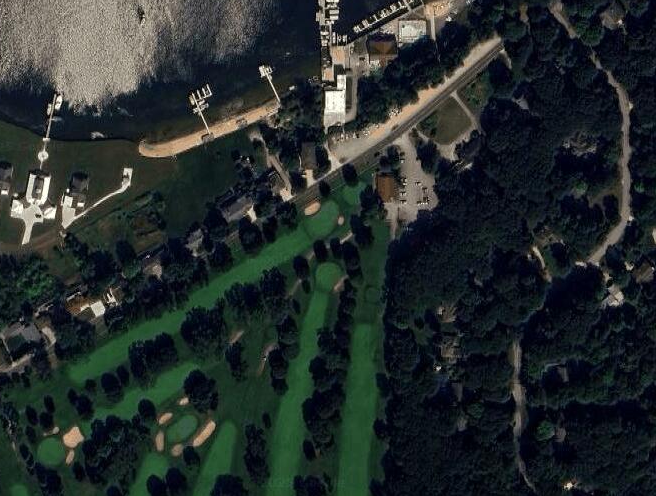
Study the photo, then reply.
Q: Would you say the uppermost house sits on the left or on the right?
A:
right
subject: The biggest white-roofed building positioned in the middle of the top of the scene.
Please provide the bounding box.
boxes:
[325,73,347,123]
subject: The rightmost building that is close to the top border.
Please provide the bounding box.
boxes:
[599,3,626,27]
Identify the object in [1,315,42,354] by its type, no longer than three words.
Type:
house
